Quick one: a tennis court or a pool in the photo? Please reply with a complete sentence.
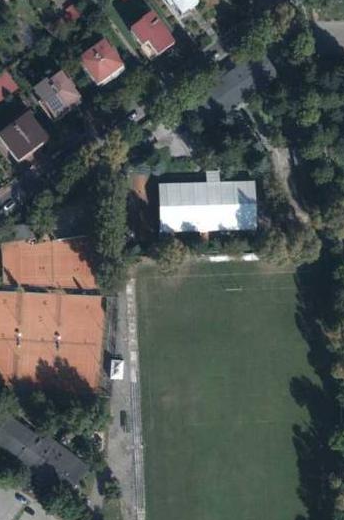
I can see a tennis court in this picture.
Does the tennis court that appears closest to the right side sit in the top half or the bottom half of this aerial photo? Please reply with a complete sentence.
Seen from above, the tennis court that appears closest to the right side lies in the bottom half of the view.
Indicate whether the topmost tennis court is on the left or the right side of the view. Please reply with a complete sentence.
It is on the left.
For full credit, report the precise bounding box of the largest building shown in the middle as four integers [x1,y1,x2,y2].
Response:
[158,180,258,234]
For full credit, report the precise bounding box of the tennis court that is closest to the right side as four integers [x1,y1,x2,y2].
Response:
[59,292,105,388]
